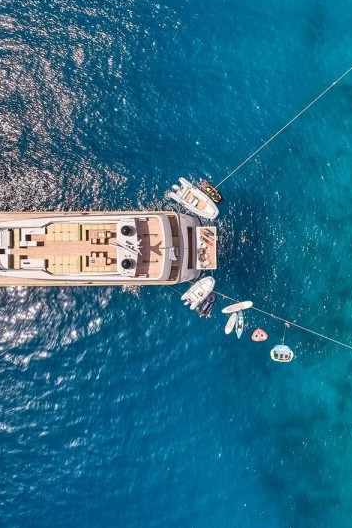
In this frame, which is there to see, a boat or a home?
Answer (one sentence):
I can see a boat in this picture.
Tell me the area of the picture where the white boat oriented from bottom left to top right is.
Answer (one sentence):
You can find the white boat oriented from bottom left to top right in the center area of the picture.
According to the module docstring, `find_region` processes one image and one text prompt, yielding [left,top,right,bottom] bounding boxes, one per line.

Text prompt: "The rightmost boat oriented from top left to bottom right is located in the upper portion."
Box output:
[199,180,222,200]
